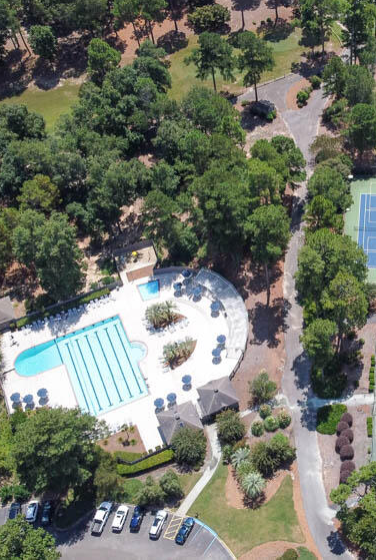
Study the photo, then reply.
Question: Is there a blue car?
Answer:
Yes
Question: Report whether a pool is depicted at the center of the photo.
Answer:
Yes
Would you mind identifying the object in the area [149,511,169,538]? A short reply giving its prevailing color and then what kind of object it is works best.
white car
